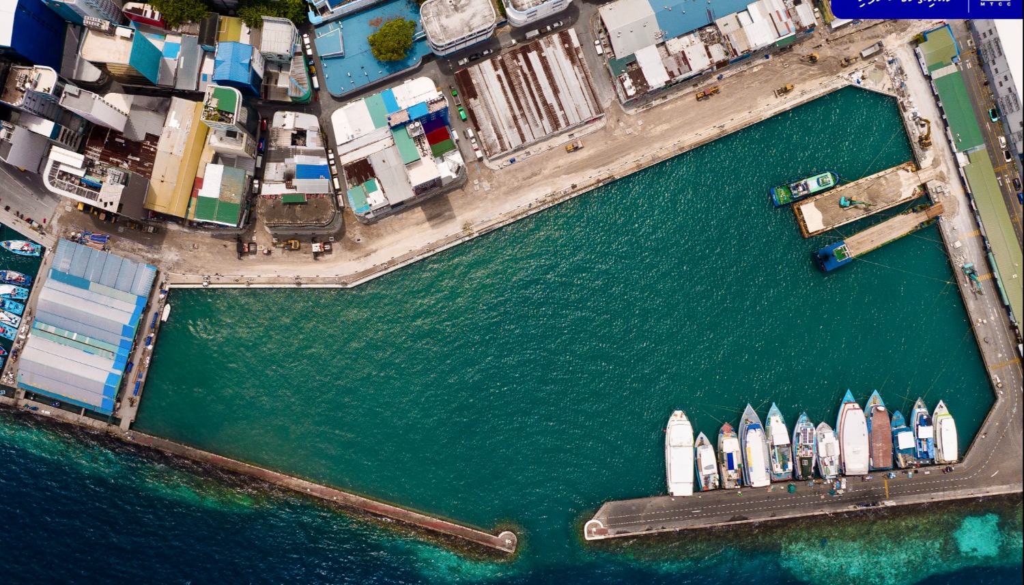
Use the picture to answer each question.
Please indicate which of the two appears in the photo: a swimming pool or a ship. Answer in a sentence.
The image shows a ship.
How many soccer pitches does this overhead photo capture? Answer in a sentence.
The picture shows no soccer pitches.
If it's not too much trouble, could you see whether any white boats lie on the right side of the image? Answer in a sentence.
Yes, looking on the right side of the image, one can make out a white boat.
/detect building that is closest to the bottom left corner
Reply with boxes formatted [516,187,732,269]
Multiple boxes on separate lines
[17,238,160,418]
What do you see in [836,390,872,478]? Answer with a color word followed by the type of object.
white boat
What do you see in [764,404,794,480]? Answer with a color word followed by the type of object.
white boat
